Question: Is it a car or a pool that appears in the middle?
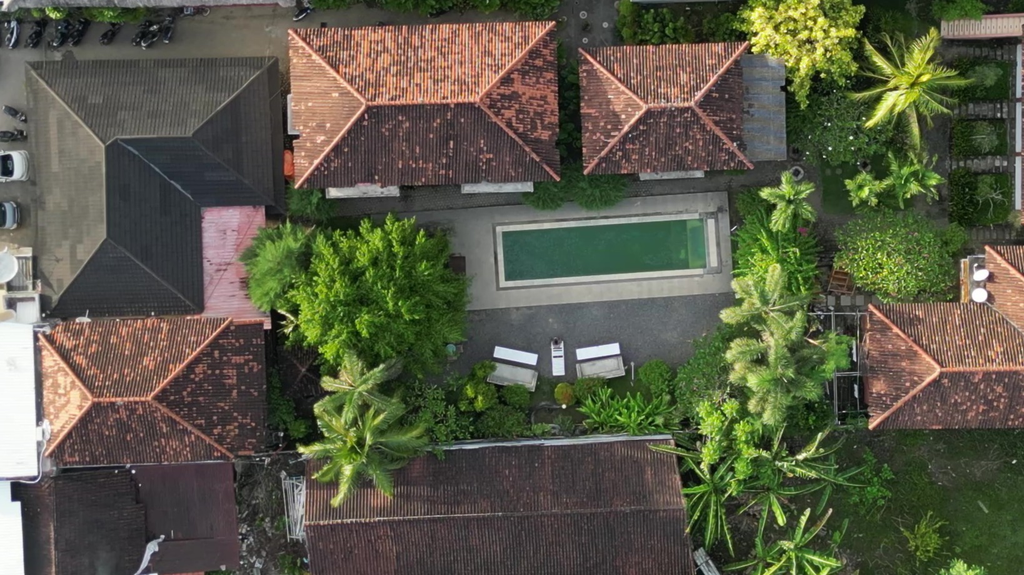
pool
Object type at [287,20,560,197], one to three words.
house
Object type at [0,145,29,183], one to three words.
car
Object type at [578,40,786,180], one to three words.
house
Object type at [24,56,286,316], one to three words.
building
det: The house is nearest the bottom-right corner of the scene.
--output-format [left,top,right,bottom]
[866,245,1024,431]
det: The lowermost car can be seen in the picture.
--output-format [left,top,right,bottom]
[0,200,23,229]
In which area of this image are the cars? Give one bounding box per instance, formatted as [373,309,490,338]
[0,145,29,183]
[0,200,23,229]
